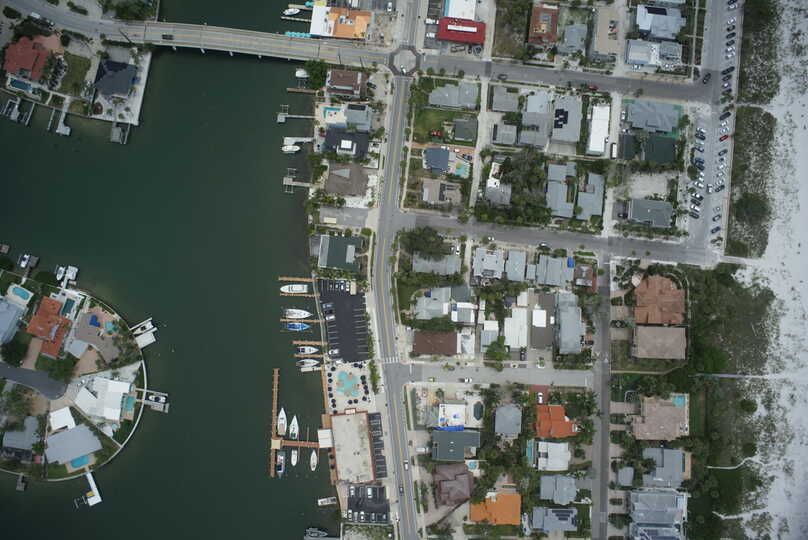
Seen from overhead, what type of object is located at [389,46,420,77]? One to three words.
roundabout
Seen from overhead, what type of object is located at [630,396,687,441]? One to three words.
house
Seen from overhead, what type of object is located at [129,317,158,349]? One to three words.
pier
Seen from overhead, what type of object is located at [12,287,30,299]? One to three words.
swimming pool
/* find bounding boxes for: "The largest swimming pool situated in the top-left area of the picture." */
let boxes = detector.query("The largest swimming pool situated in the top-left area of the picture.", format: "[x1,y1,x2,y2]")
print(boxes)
[9,77,32,92]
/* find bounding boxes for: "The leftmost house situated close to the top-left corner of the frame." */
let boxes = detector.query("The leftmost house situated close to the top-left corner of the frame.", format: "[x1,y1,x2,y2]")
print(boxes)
[5,36,55,82]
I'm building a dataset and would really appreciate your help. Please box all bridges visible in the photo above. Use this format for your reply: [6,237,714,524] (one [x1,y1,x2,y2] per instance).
[126,22,391,72]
